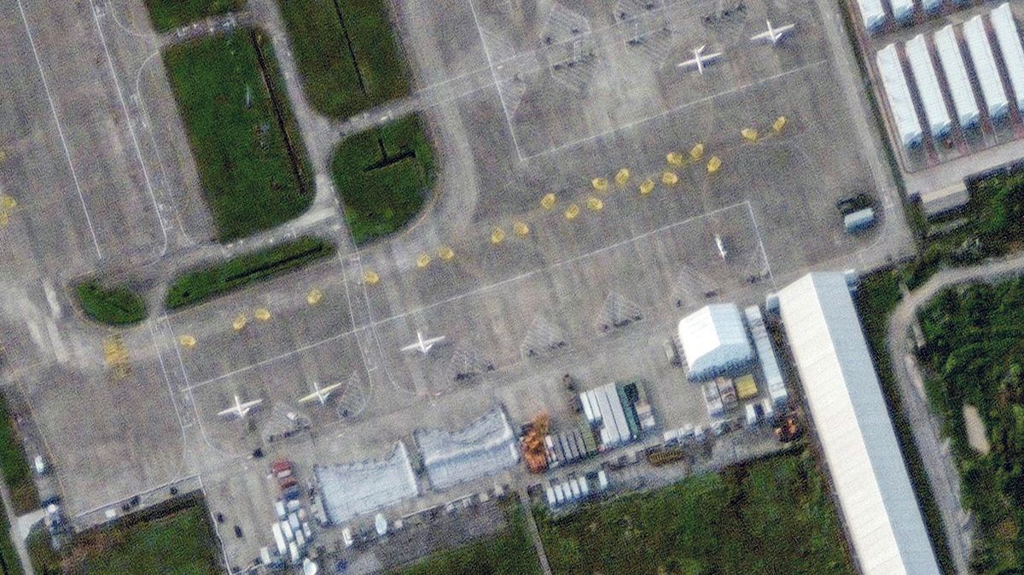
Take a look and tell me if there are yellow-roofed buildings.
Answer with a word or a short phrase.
Yes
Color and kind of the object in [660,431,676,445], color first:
white vehicle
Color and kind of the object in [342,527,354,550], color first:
white vehicle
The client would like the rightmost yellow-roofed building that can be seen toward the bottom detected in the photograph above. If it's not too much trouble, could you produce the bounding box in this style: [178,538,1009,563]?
[734,374,759,402]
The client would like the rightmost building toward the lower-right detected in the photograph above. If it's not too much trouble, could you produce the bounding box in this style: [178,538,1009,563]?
[777,273,940,575]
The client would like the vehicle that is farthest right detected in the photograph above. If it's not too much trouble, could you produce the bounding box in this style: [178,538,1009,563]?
[839,193,875,218]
